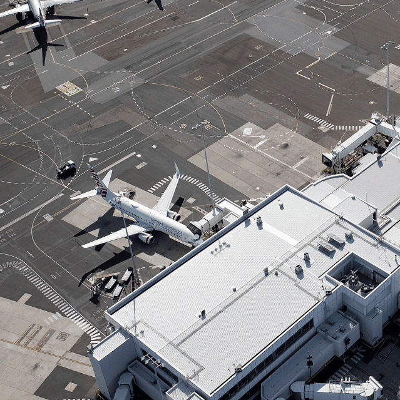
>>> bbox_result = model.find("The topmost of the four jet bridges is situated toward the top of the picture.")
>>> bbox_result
[321,120,400,169]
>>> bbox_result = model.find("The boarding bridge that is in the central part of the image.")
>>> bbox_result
[188,204,232,238]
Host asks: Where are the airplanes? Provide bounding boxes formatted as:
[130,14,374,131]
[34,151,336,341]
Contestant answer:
[0,0,87,28]
[72,162,205,249]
